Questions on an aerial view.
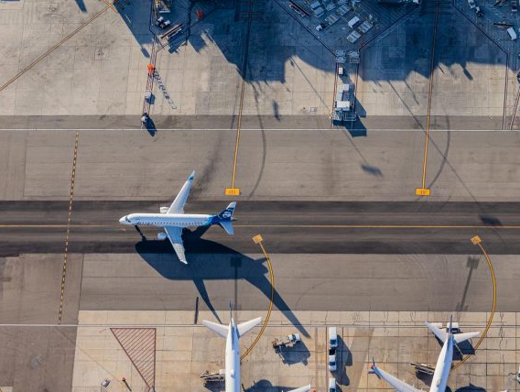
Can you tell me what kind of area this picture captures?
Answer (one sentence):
This looks like an airport.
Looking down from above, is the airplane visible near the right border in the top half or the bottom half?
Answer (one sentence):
Seen from above, the airplane visible near the right border lies in the bottom half of the view.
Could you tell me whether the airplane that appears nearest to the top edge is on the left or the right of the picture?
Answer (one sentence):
The airplane that appears nearest to the top edge sits on the left side.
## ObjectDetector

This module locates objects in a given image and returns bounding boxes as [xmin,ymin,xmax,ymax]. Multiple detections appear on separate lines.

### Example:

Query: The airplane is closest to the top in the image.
[120,171,236,265]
